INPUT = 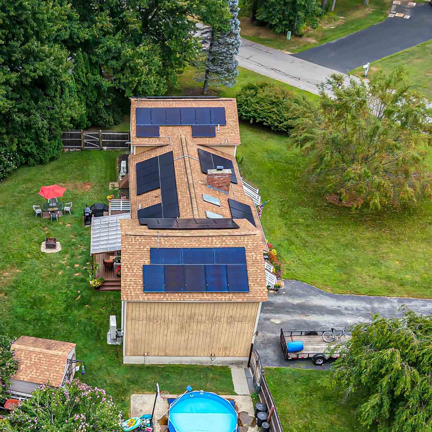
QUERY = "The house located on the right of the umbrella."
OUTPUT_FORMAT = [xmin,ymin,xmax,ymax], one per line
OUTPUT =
[120,94,280,366]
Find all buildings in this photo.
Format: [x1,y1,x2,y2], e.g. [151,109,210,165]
[120,94,280,366]
[9,341,73,408]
